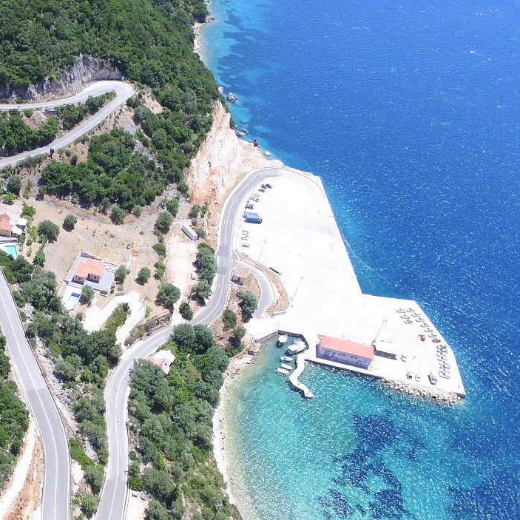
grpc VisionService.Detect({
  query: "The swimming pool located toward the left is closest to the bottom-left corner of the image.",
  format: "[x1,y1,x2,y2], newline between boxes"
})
[61,291,80,307]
